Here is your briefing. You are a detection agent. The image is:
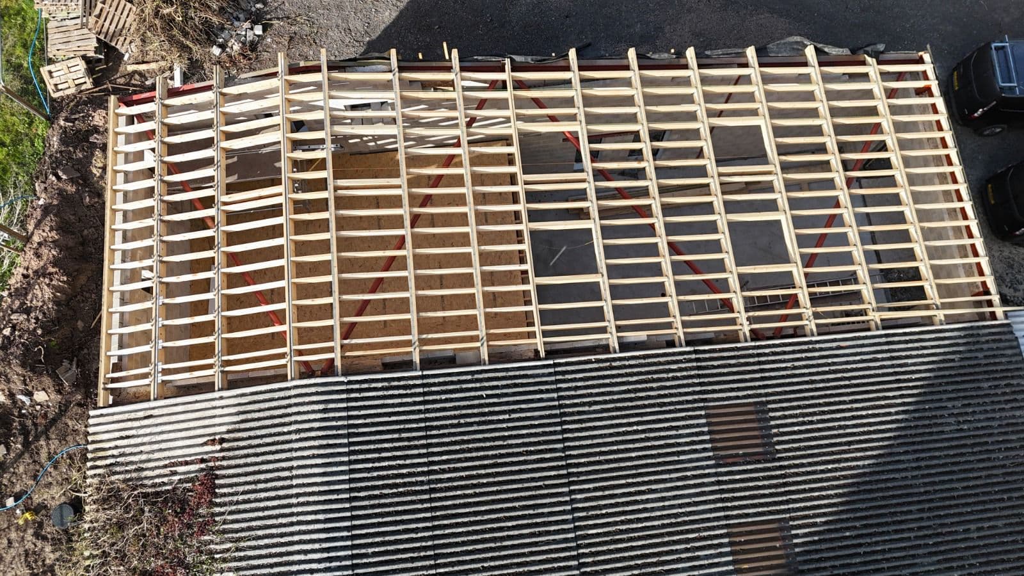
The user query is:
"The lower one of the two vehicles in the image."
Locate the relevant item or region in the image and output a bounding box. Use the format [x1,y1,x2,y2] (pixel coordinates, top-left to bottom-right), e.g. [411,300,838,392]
[969,154,1024,246]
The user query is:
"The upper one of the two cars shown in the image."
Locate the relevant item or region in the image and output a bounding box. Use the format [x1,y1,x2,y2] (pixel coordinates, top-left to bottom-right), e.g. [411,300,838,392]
[935,25,1024,136]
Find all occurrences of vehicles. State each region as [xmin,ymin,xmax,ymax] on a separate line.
[969,154,1024,246]
[935,25,1024,136]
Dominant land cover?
buildings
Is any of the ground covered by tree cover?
No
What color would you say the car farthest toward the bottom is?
black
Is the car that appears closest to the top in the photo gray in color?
No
